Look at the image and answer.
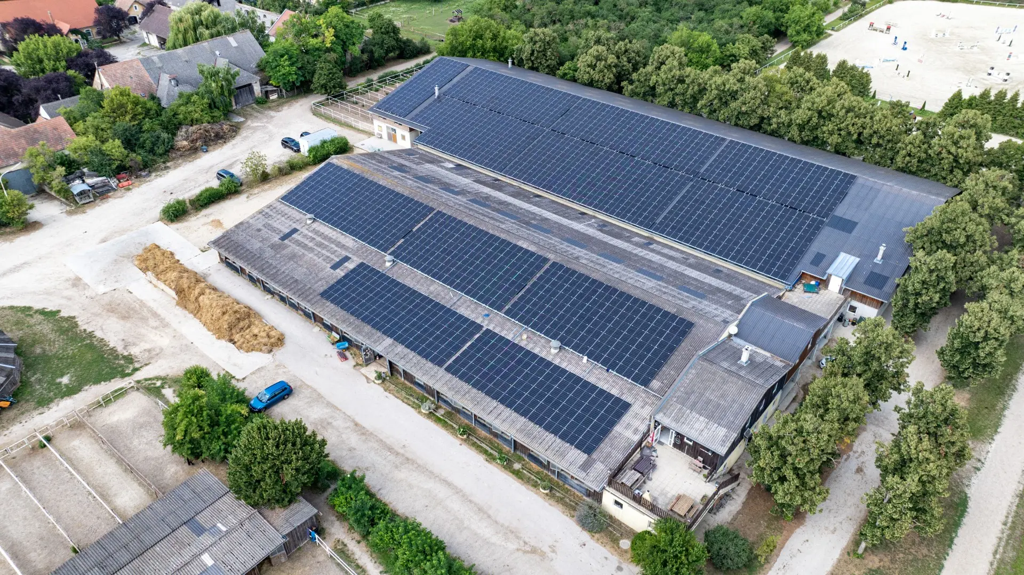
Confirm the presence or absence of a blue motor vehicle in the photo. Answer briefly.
Yes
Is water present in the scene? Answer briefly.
No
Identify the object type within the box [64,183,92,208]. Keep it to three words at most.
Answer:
building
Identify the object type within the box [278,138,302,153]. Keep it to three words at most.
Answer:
car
